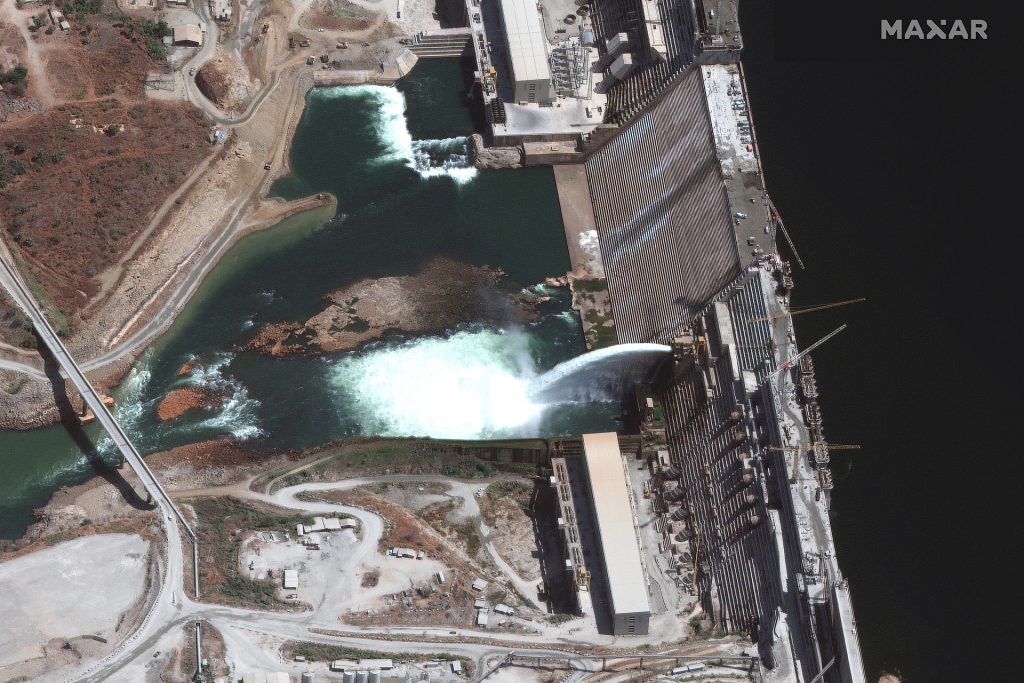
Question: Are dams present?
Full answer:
Yes, a dam appears in the view.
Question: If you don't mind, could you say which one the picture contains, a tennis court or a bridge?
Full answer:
I can see a bridge in this picture.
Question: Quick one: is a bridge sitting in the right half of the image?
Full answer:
No, there's no bridge to be seen in the right half of the image.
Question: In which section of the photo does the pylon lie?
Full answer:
The pylon appears toward the top left of the photo.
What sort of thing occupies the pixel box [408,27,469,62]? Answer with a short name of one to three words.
dam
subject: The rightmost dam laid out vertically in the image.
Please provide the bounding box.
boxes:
[553,0,866,683]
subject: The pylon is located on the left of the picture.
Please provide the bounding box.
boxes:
[145,79,173,100]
